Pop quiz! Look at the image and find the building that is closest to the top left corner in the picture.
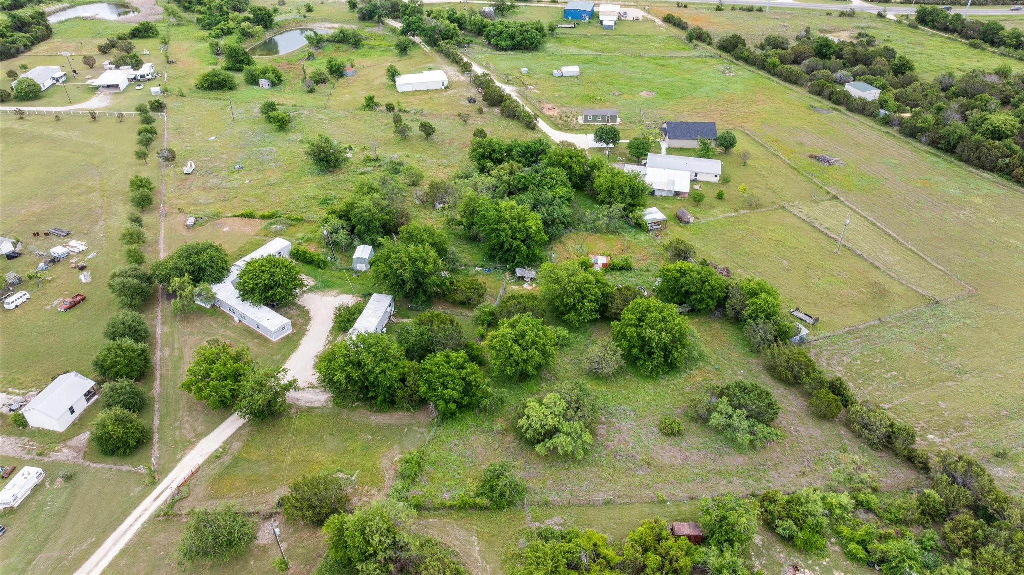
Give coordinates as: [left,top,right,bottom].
[27,68,71,91]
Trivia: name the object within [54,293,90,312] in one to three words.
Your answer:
vehicle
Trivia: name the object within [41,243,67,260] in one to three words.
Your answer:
camper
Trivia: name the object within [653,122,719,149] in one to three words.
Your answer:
house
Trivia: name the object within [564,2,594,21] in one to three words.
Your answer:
building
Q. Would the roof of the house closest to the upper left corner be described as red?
No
